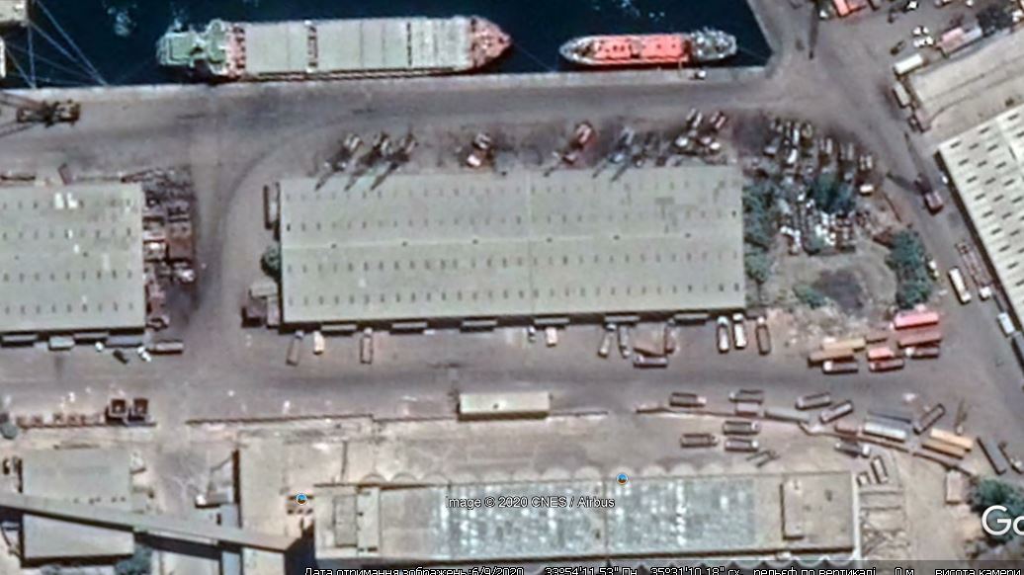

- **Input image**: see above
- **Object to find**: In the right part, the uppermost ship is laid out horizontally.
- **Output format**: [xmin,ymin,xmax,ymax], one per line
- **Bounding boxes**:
[560,30,737,66]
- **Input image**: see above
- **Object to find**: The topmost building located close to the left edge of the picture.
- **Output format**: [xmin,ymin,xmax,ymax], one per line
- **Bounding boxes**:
[0,184,145,341]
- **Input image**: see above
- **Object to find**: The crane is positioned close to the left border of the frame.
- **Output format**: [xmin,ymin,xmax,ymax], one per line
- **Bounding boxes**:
[0,99,79,123]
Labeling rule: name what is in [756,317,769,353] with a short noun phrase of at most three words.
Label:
vehicle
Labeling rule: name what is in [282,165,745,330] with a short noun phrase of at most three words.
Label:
warehouse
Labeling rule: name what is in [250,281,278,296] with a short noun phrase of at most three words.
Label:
shed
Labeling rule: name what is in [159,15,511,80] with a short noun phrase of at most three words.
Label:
ship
